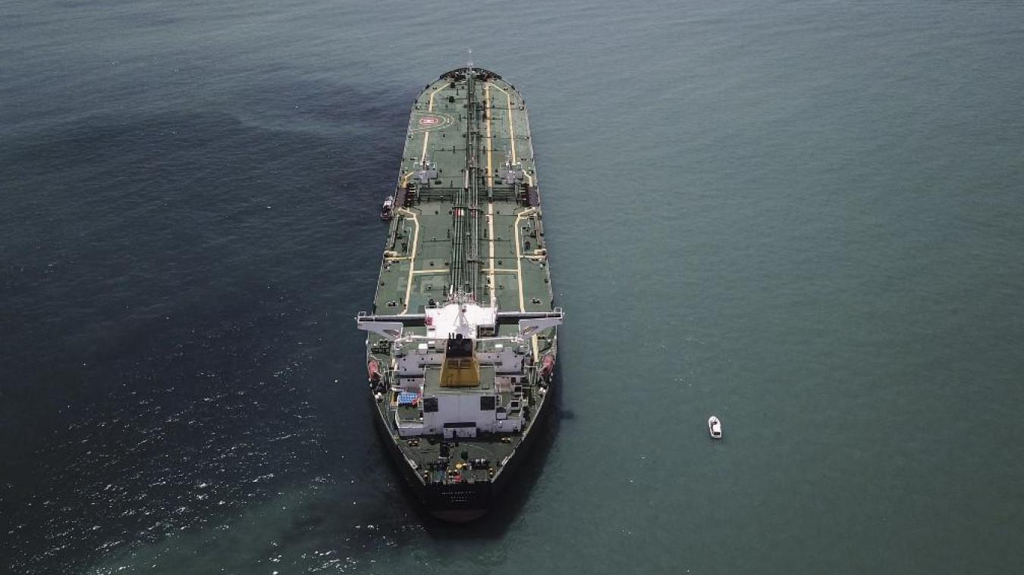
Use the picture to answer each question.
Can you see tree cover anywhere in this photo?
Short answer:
No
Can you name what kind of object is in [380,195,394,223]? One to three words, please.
boat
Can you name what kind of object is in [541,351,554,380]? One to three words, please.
boat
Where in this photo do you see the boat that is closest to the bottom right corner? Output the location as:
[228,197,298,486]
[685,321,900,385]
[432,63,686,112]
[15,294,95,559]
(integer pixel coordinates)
[708,417,723,441]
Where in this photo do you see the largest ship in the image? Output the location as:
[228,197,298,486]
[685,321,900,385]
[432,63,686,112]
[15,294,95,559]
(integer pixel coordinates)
[354,50,567,524]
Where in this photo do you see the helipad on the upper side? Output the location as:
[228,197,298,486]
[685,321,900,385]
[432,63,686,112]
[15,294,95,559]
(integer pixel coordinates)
[412,113,455,130]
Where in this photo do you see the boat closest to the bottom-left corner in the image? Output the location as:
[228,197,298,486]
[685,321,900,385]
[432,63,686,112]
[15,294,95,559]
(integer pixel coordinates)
[368,355,382,383]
